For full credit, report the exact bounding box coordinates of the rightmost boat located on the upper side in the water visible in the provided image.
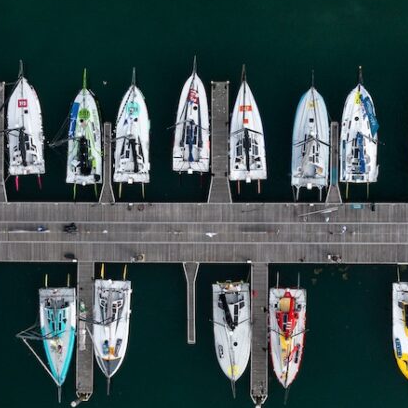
[338,66,384,197]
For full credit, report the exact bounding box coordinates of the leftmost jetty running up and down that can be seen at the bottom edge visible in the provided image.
[75,262,96,402]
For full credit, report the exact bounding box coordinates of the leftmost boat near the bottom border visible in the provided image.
[15,274,76,403]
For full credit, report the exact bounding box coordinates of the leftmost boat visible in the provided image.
[0,60,45,193]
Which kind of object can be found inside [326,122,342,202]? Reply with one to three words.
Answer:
pier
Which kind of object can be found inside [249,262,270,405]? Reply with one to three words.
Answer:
pier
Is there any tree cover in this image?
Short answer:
No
